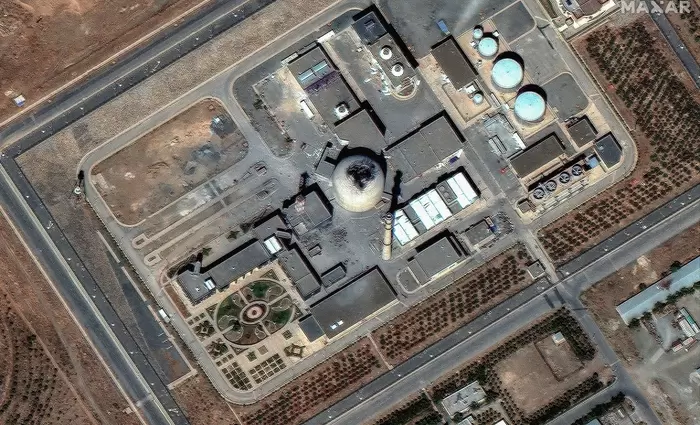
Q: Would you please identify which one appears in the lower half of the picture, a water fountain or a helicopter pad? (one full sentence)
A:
Looking in the lower half of the picture, you will find a water fountain.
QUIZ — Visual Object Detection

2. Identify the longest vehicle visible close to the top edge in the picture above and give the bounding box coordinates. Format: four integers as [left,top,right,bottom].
[436,18,450,36]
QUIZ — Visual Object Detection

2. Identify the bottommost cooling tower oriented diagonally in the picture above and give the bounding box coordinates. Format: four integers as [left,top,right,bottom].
[530,161,587,207]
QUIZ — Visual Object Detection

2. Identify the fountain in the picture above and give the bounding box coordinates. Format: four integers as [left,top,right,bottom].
[240,299,268,325]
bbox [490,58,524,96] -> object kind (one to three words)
storage tank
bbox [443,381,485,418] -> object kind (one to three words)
house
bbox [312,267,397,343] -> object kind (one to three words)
building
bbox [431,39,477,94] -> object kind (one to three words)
building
